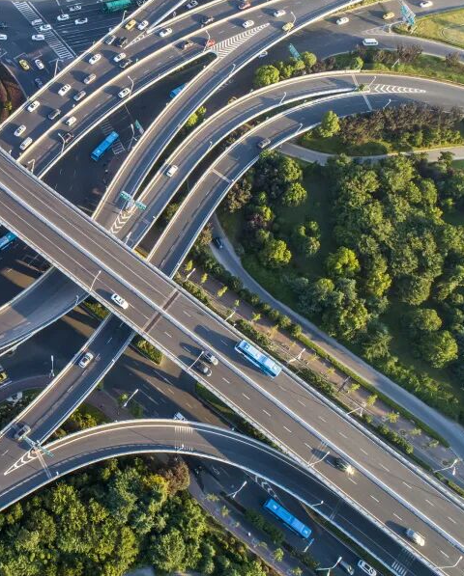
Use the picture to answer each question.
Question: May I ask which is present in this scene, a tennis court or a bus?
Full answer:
Visible in the photo is a bus.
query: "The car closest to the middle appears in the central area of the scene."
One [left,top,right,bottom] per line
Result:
[211,234,223,251]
